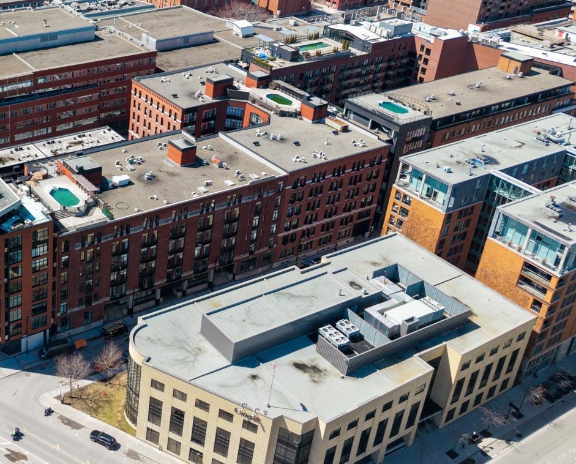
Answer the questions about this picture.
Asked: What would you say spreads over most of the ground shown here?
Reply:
buildings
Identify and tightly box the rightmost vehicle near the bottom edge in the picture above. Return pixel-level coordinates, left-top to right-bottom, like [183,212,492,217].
[89,432,119,453]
